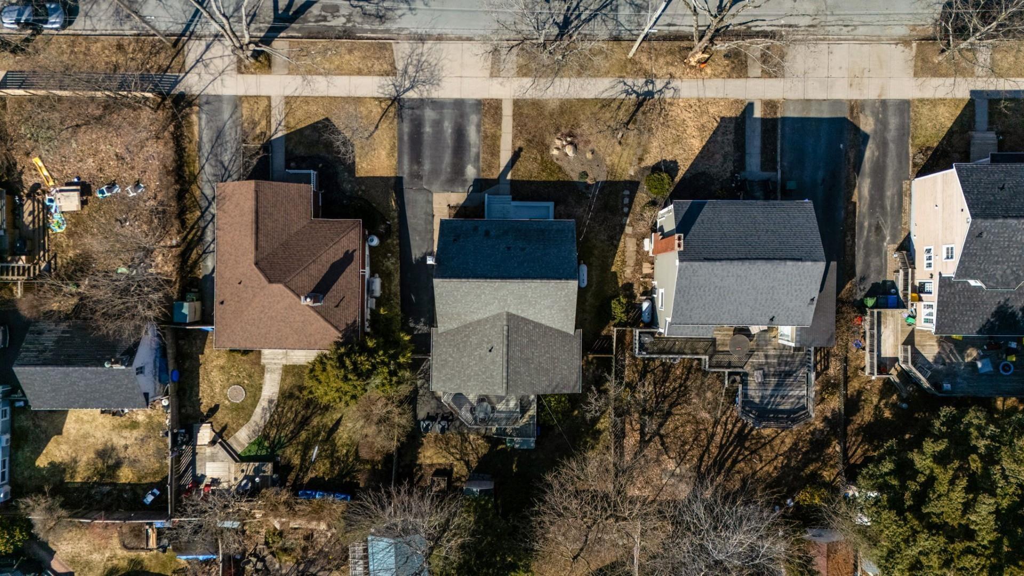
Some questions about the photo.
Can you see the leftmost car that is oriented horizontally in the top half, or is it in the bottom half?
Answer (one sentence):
Seen from above, the leftmost car that is oriented horizontally lies in the top half of the view.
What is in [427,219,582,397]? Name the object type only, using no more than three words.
house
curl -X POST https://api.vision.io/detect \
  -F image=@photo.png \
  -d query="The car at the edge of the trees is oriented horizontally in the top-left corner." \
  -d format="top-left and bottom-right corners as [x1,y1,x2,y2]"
[2,1,69,33]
